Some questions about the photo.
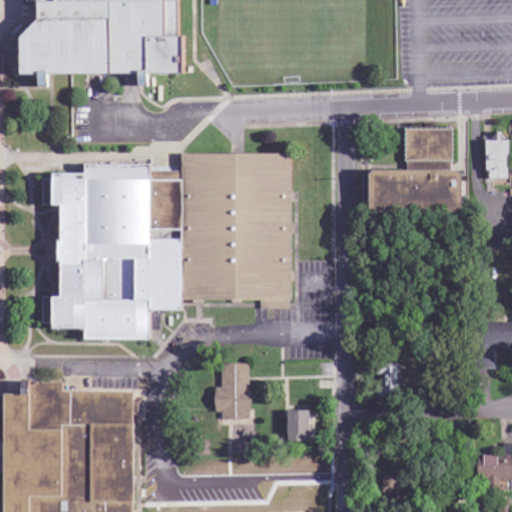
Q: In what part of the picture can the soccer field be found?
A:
top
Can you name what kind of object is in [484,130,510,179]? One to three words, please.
house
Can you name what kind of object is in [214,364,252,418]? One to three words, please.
house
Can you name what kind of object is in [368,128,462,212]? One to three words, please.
building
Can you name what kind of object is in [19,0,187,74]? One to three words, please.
building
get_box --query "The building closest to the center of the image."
[183,153,294,306]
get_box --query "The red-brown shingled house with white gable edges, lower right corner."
[478,444,512,490]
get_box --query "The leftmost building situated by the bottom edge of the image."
[4,380,134,512]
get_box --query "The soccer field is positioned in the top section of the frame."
[219,0,366,84]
